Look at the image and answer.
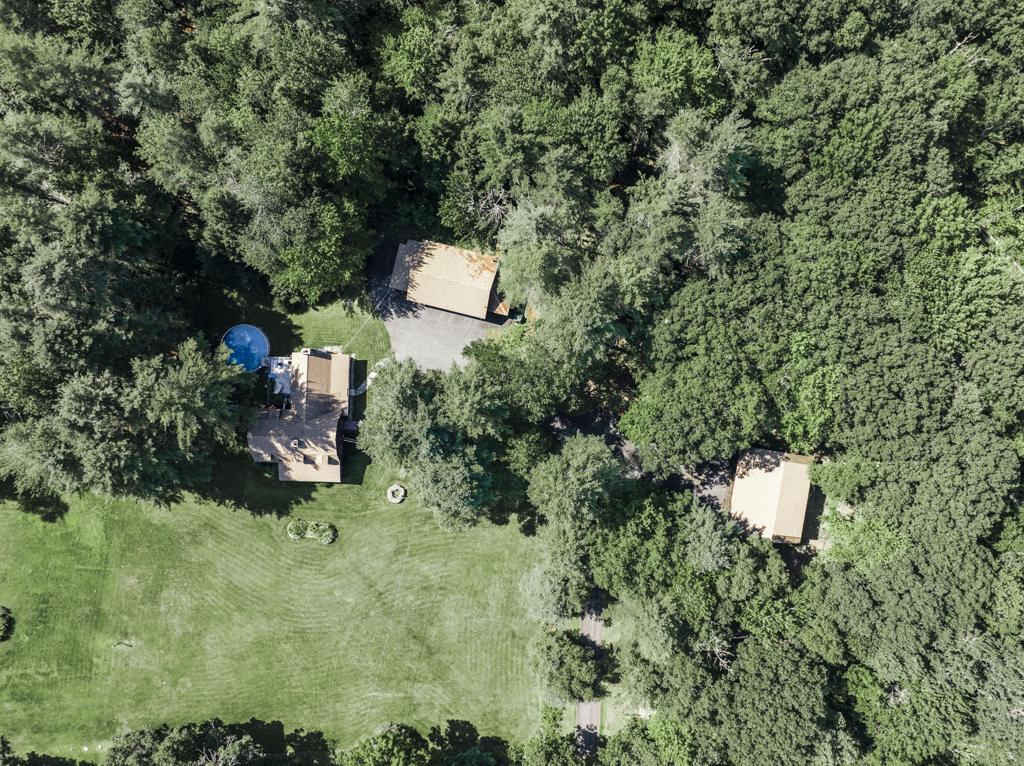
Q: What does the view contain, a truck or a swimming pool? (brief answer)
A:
swimming pool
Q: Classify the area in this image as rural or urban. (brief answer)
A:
rural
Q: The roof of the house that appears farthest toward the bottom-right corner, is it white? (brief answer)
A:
Yes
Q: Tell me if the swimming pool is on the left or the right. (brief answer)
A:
left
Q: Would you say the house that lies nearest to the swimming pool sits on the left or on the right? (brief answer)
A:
left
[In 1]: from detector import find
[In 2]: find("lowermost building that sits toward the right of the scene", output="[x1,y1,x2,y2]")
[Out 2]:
[725,447,809,542]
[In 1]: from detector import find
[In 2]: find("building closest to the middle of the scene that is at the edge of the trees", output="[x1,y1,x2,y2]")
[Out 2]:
[389,239,508,319]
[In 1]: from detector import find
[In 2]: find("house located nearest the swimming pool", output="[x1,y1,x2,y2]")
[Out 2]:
[246,347,352,483]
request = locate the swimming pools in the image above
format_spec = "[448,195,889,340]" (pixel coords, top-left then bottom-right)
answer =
[220,324,271,372]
